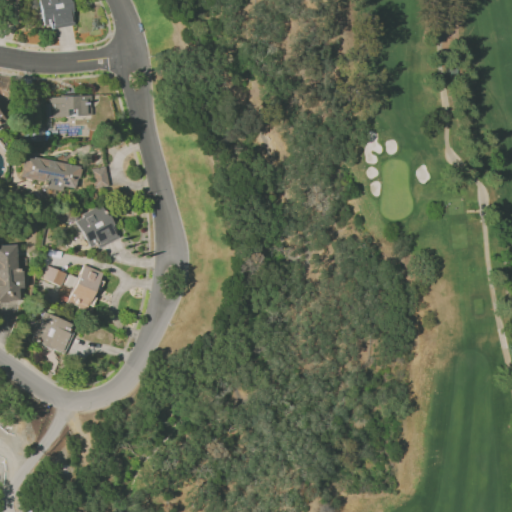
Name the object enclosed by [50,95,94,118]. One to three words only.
house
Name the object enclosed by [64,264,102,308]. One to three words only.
house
